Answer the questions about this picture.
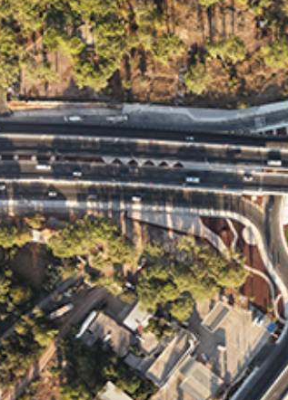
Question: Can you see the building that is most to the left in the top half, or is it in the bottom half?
bottom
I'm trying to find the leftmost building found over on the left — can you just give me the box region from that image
[85,333,113,359]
